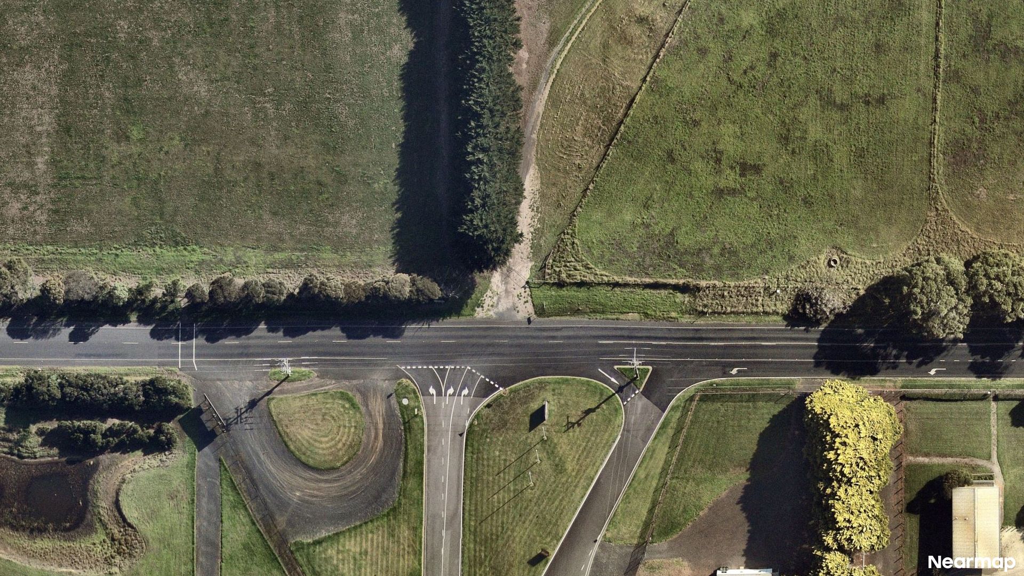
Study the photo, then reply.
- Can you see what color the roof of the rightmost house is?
white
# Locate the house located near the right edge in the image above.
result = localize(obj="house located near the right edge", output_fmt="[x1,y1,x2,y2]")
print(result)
[952,485,1001,572]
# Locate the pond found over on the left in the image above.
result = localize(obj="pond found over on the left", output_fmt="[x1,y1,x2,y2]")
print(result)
[24,471,83,521]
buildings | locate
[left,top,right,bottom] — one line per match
[952,485,1001,572]
[717,570,772,576]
